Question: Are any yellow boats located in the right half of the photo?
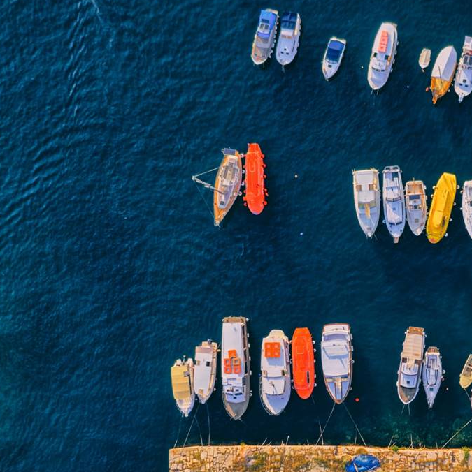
Yes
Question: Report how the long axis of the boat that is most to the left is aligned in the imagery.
from top to bottom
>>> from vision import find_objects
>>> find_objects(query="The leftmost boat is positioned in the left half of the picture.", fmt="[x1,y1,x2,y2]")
[171,356,197,425]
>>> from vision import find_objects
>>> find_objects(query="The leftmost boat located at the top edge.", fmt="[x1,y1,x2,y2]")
[251,7,278,69]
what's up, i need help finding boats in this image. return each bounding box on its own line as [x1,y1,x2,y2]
[460,354,472,388]
[218,317,252,422]
[426,172,460,244]
[171,356,197,425]
[366,22,399,96]
[404,180,428,237]
[418,48,432,68]
[352,170,383,240]
[243,143,268,215]
[190,148,242,229]
[422,344,443,409]
[290,328,317,399]
[321,324,355,405]
[381,167,406,245]
[251,7,278,69]
[260,326,292,417]
[454,32,472,102]
[323,36,346,81]
[396,326,428,419]
[196,339,218,415]
[460,180,472,238]
[426,46,457,110]
[275,8,303,69]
